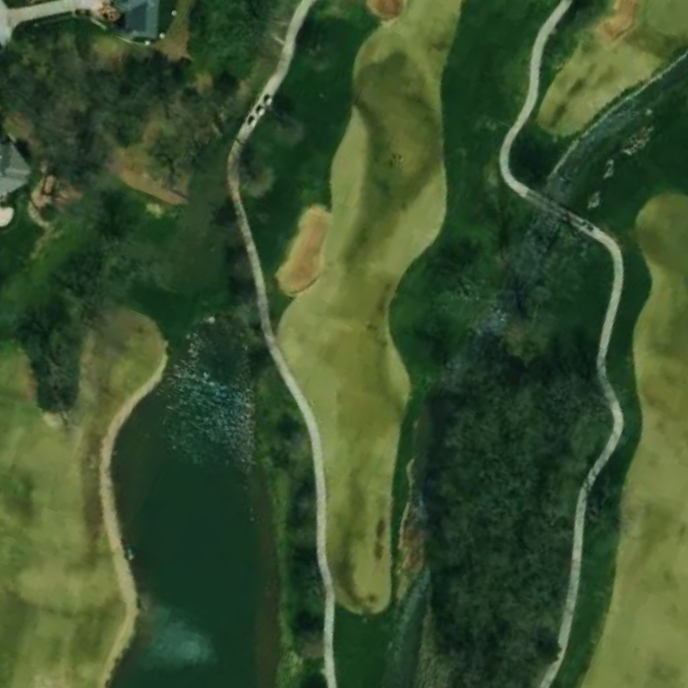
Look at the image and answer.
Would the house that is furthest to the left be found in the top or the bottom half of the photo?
top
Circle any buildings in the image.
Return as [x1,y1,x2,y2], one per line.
[0,143,30,205]
[114,0,162,38]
